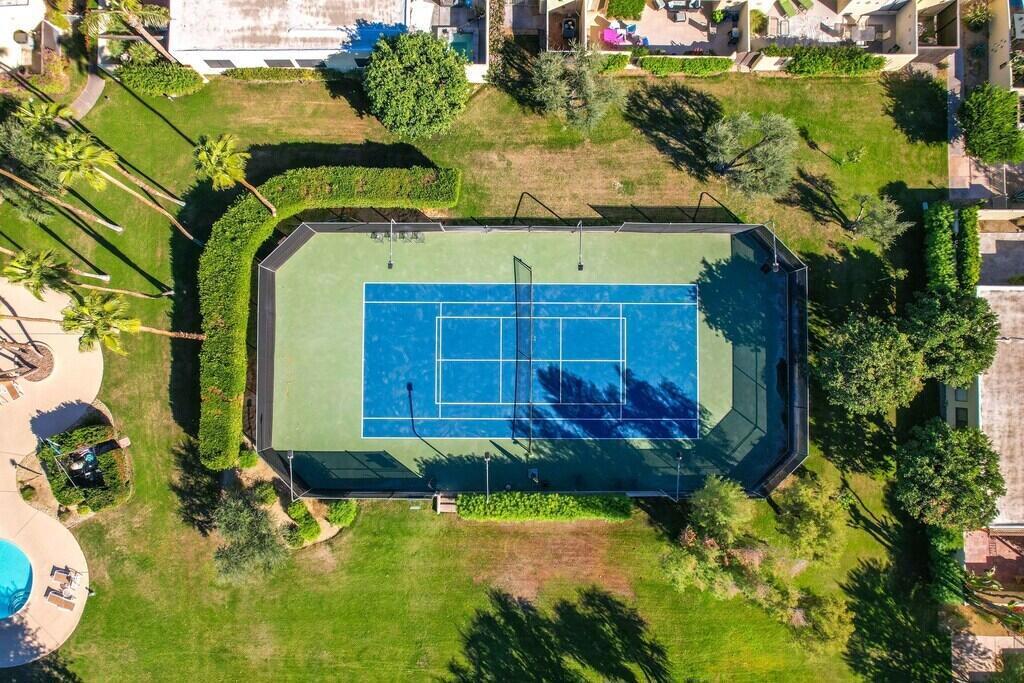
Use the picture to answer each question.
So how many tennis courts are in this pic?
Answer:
one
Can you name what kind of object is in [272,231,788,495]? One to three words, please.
tennis court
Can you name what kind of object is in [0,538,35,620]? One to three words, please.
swimming pool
